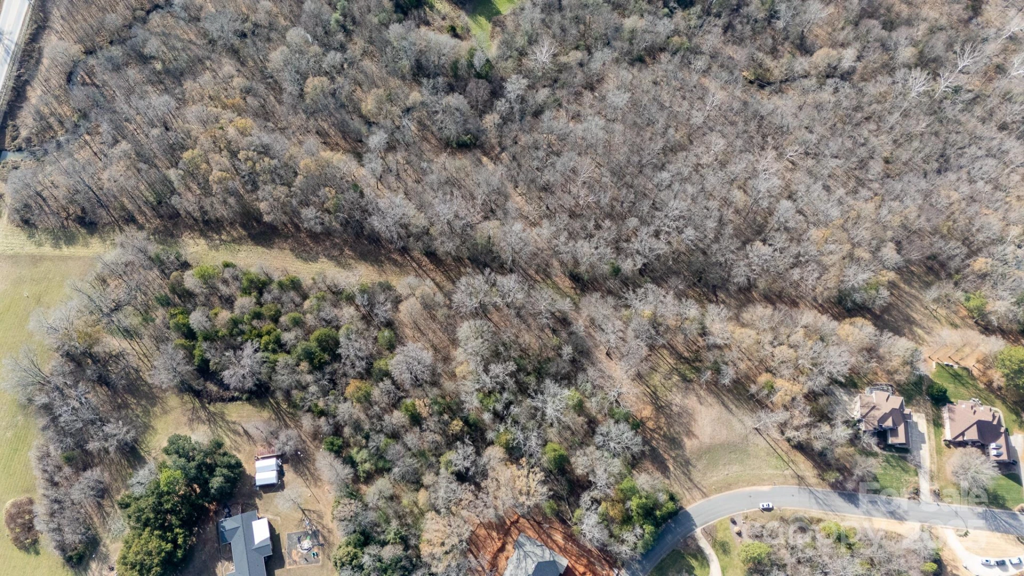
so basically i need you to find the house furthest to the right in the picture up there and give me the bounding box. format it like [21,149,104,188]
[942,400,1011,464]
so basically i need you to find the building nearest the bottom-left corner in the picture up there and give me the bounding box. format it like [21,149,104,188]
[219,510,274,576]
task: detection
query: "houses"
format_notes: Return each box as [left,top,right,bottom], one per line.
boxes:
[503,533,568,576]
[219,510,274,576]
[942,400,1011,464]
[854,391,912,450]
